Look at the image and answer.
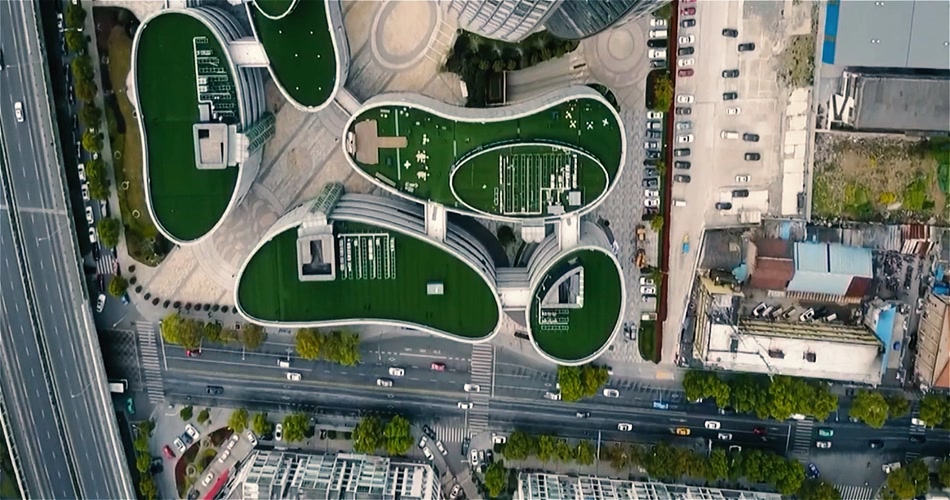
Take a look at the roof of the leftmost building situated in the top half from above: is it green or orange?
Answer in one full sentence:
The roof of the leftmost building situated in the top half looks green in the image.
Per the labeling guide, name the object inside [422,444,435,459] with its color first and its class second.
white vehicle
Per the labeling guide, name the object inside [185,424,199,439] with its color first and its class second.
white car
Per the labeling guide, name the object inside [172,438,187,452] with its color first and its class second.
white vehicle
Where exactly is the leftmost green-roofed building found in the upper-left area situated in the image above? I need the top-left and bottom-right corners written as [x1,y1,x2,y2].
[132,8,282,246]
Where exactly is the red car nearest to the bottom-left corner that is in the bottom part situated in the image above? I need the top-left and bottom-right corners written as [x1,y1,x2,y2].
[161,444,175,458]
